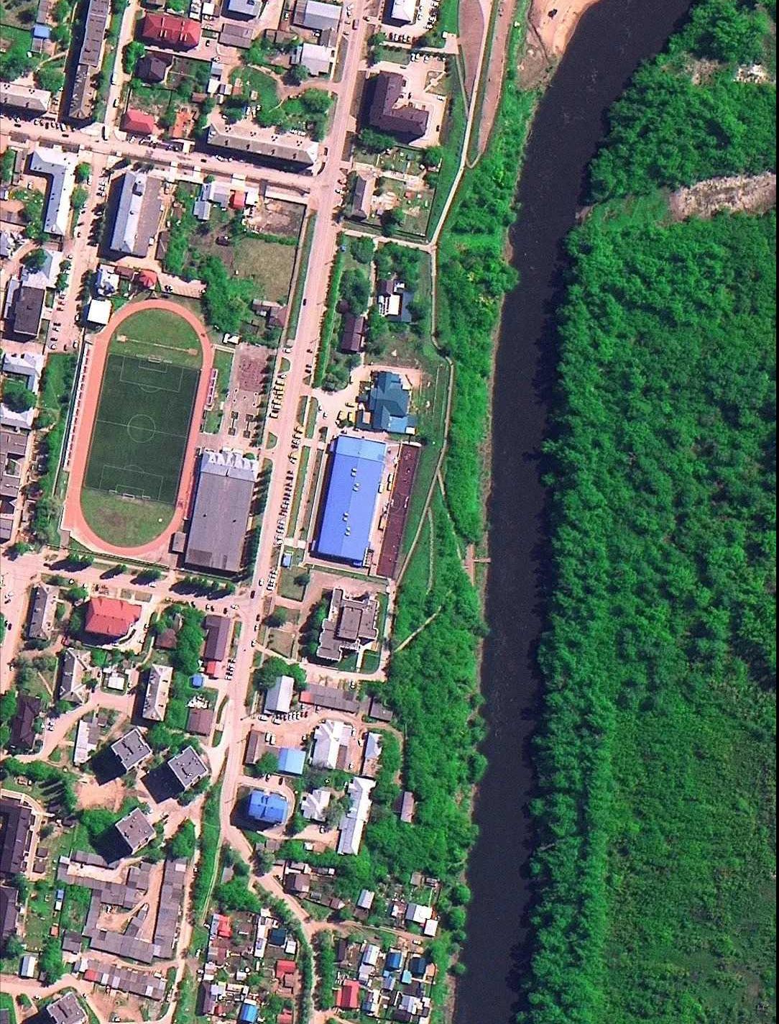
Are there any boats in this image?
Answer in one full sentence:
No, no boat is visible in the view.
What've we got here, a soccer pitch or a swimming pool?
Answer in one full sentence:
Looking from above, you can make out a soccer pitch.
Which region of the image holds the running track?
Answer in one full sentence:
Look in the left portion of the view to spot the running track.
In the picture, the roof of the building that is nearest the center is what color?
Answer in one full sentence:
The roof of the building that is nearest the center is blue.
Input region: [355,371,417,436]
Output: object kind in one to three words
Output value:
building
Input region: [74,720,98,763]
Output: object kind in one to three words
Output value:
barn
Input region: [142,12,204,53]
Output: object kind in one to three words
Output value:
house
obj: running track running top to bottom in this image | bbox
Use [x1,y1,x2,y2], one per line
[60,300,214,555]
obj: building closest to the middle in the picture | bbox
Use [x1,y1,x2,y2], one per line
[318,435,387,566]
